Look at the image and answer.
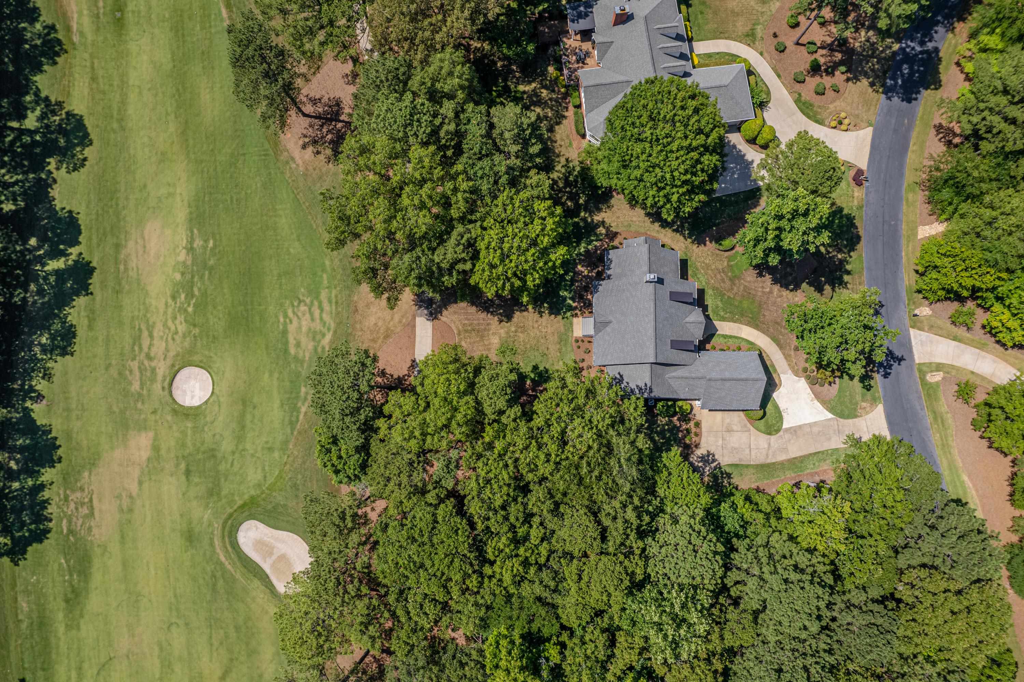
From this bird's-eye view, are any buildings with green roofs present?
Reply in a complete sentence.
No, there appears to be no building with a green roof in this shot.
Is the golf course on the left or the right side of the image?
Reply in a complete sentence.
It is on the left.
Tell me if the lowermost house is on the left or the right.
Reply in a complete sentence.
The lowermost house sits on the right side.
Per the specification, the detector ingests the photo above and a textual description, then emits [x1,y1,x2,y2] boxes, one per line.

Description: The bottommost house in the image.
[593,237,767,410]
